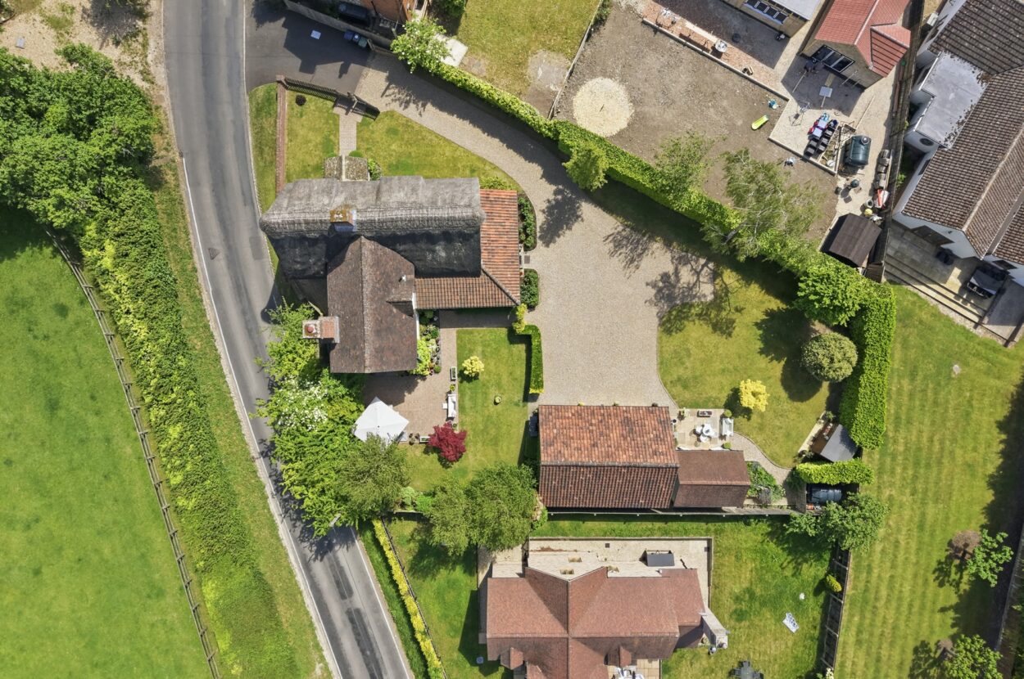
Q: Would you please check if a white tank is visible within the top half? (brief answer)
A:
No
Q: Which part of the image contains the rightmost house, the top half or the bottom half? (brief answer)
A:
top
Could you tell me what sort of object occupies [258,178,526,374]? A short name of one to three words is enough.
house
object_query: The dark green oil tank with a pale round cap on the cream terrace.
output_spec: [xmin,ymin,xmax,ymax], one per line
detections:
[842,136,872,170]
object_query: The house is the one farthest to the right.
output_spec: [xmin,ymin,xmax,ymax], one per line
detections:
[893,0,1024,283]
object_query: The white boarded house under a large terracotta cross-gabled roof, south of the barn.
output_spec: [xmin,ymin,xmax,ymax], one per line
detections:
[485,556,728,679]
